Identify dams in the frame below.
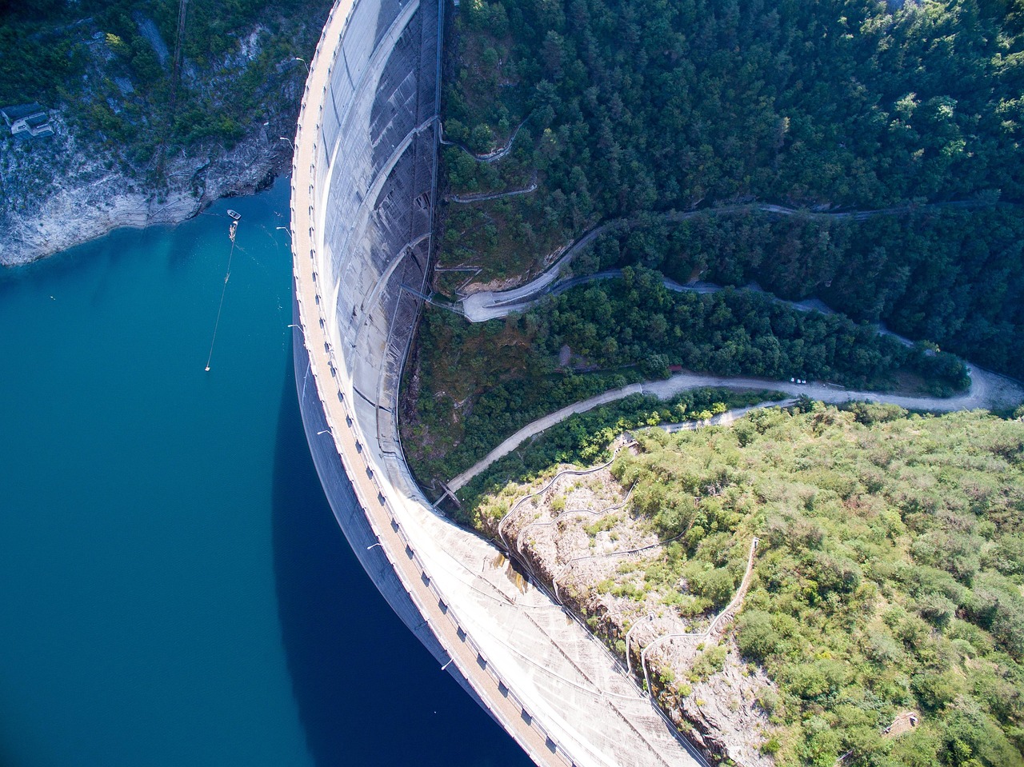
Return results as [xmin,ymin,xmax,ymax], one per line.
[288,0,719,767]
